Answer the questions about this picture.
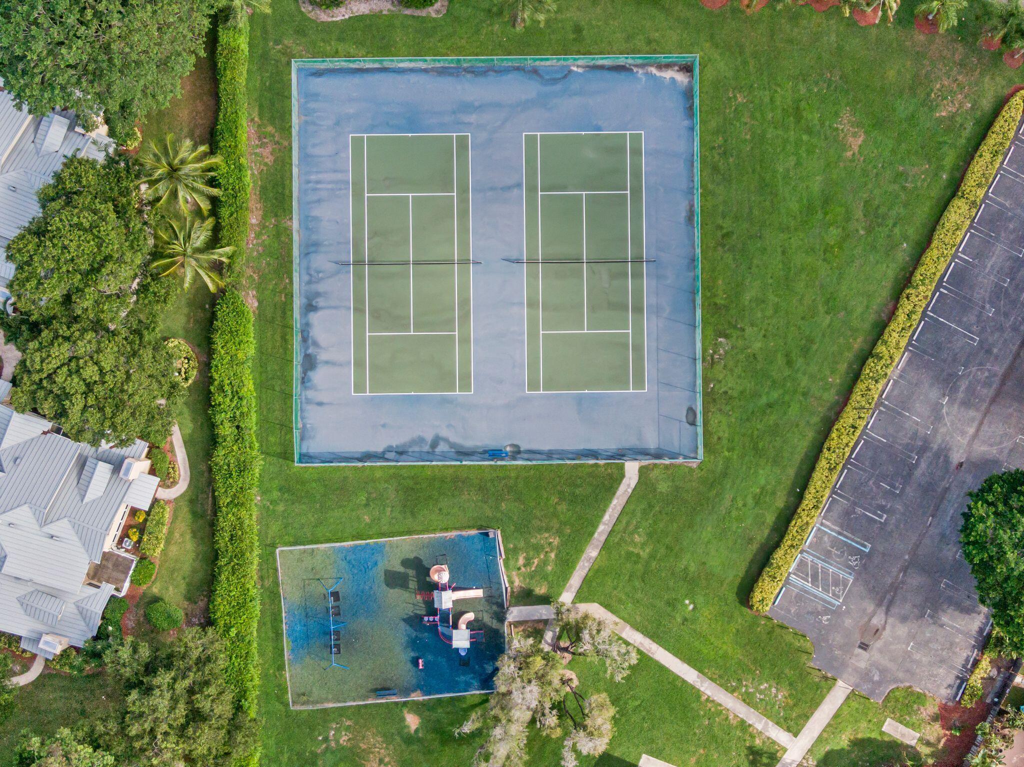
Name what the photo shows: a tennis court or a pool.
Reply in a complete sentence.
It is a tennis court that can be seen here.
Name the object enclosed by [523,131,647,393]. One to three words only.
tennis court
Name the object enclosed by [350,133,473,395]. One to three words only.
tennis court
